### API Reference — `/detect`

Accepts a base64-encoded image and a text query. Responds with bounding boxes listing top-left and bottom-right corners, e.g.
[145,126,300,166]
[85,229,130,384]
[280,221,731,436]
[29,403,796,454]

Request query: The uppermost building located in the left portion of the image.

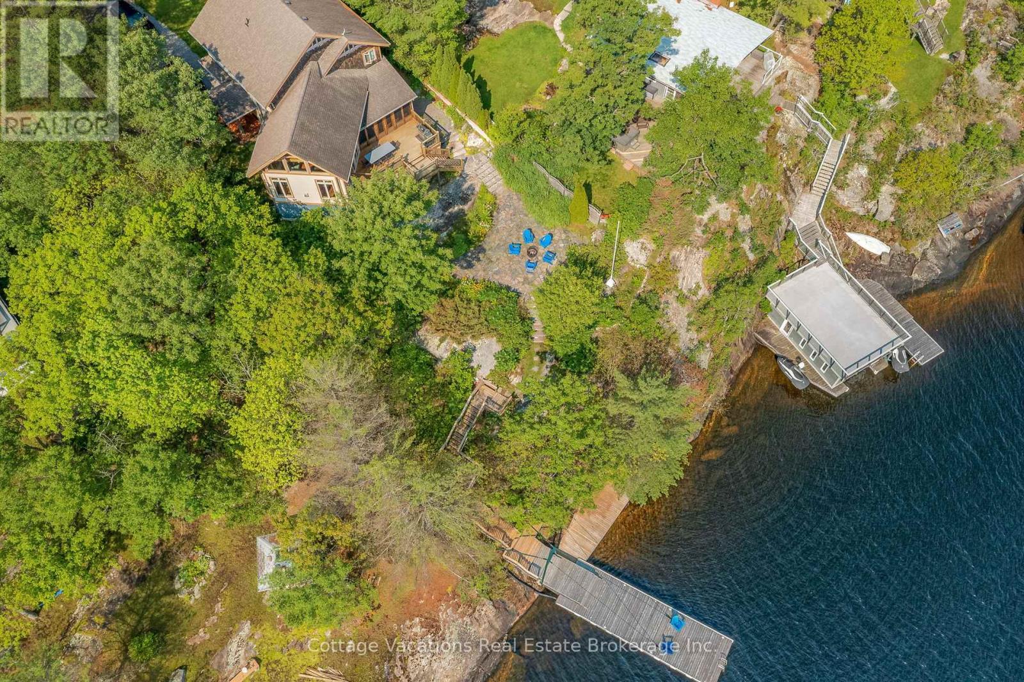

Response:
[175,0,418,219]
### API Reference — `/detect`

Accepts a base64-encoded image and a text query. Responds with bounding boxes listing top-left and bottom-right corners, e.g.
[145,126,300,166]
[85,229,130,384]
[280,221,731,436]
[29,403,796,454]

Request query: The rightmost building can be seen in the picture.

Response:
[762,256,912,398]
